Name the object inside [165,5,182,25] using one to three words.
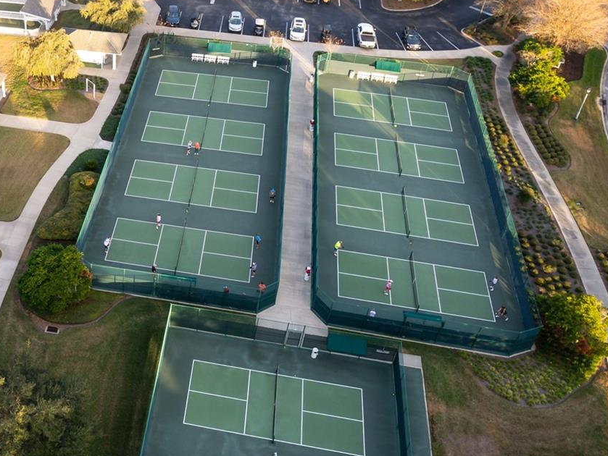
car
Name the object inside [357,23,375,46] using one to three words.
vehicle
